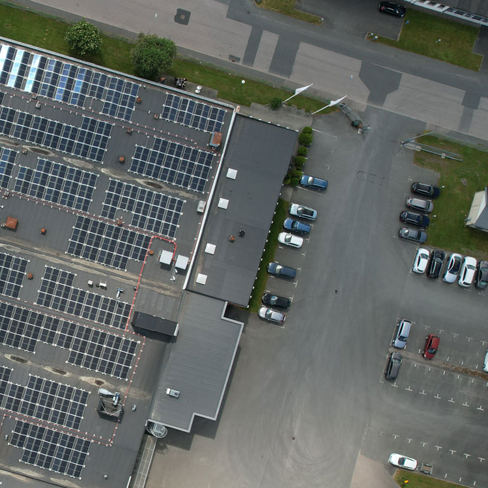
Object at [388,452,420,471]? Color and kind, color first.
white car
